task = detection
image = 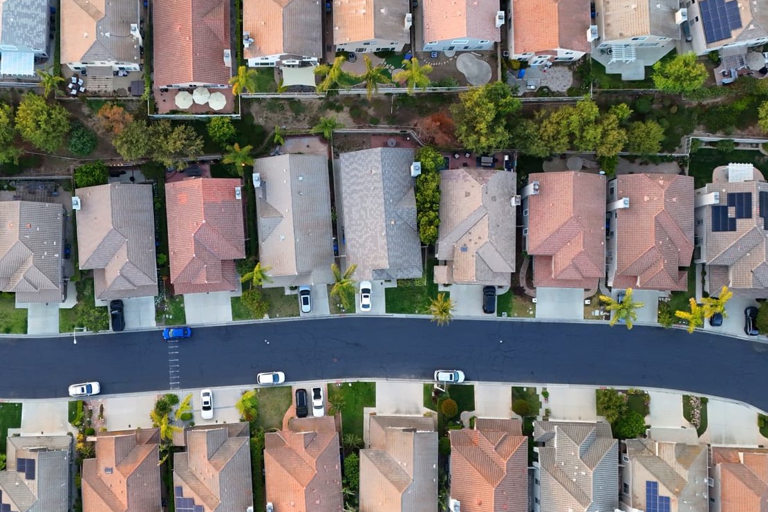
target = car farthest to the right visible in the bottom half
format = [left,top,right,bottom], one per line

[742,305,759,336]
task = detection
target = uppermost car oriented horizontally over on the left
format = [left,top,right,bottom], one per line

[162,326,192,340]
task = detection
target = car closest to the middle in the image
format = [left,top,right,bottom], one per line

[359,281,373,312]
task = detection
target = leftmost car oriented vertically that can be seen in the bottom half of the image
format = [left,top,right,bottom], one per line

[109,299,125,332]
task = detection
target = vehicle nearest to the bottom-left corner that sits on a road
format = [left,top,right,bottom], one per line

[68,380,103,396]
